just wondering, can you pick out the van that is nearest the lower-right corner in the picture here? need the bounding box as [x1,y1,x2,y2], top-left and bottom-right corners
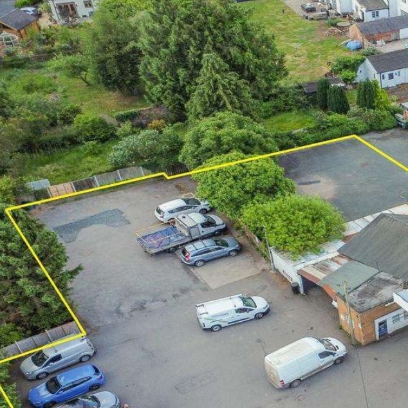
[260,326,352,394]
